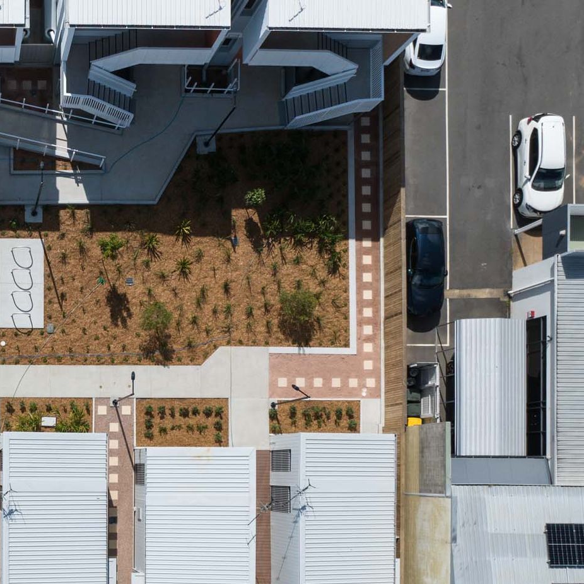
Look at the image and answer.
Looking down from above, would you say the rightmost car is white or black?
white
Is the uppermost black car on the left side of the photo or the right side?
right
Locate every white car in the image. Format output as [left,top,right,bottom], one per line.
[513,111,572,213]
[415,0,449,73]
